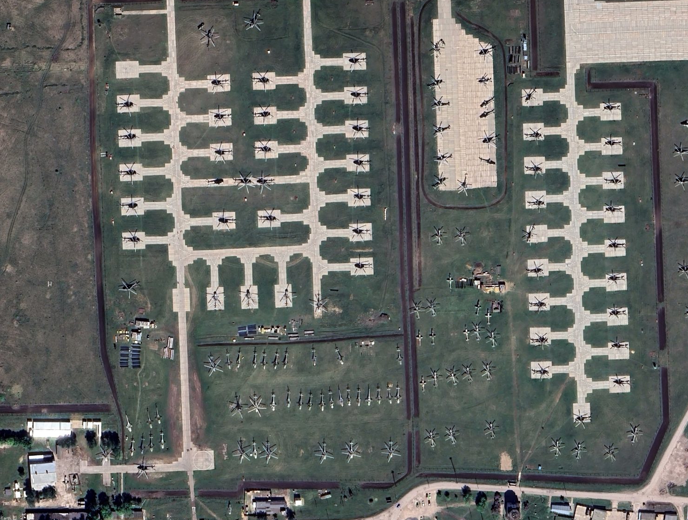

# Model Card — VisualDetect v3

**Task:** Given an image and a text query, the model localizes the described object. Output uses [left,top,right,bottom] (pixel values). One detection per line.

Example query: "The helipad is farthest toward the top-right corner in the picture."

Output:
[600,104,622,121]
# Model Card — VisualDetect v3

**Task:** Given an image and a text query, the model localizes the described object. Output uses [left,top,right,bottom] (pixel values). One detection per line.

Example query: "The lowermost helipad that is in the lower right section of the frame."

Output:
[572,403,590,422]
